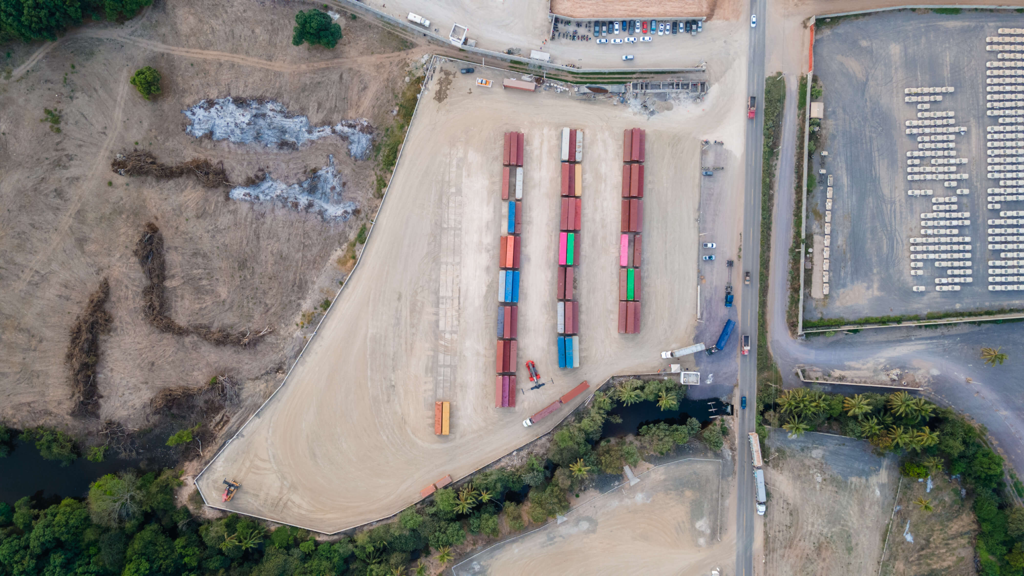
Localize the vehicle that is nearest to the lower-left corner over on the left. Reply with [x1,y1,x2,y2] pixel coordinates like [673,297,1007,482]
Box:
[224,477,242,499]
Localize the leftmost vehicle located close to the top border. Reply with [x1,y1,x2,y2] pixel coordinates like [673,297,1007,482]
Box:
[406,13,430,28]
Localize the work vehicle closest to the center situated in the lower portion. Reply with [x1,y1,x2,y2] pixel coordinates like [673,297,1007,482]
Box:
[522,359,554,393]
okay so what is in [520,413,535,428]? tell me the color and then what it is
white vehicle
